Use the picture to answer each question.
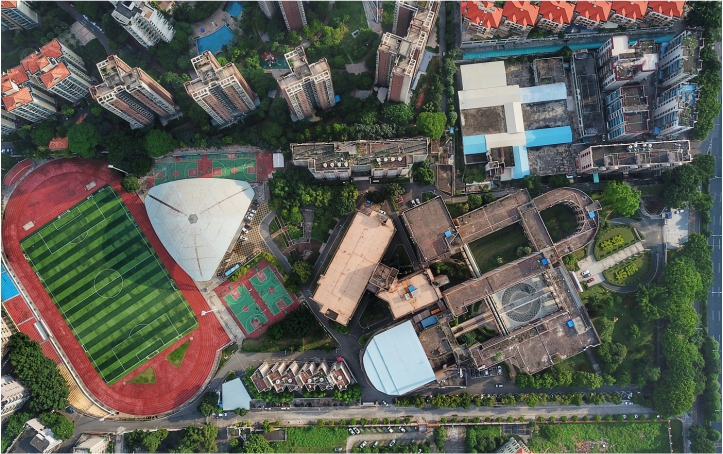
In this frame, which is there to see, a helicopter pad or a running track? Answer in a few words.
running track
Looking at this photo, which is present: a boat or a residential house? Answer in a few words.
residential house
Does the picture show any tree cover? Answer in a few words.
Yes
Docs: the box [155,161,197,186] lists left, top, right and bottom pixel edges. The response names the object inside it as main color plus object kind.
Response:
green basketball court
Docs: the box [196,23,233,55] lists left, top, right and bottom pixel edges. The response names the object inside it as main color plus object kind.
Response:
blue swimming pool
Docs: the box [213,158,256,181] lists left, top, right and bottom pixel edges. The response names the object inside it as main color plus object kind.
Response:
green basketball court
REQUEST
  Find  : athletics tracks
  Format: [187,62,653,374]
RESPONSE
[2,157,230,415]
